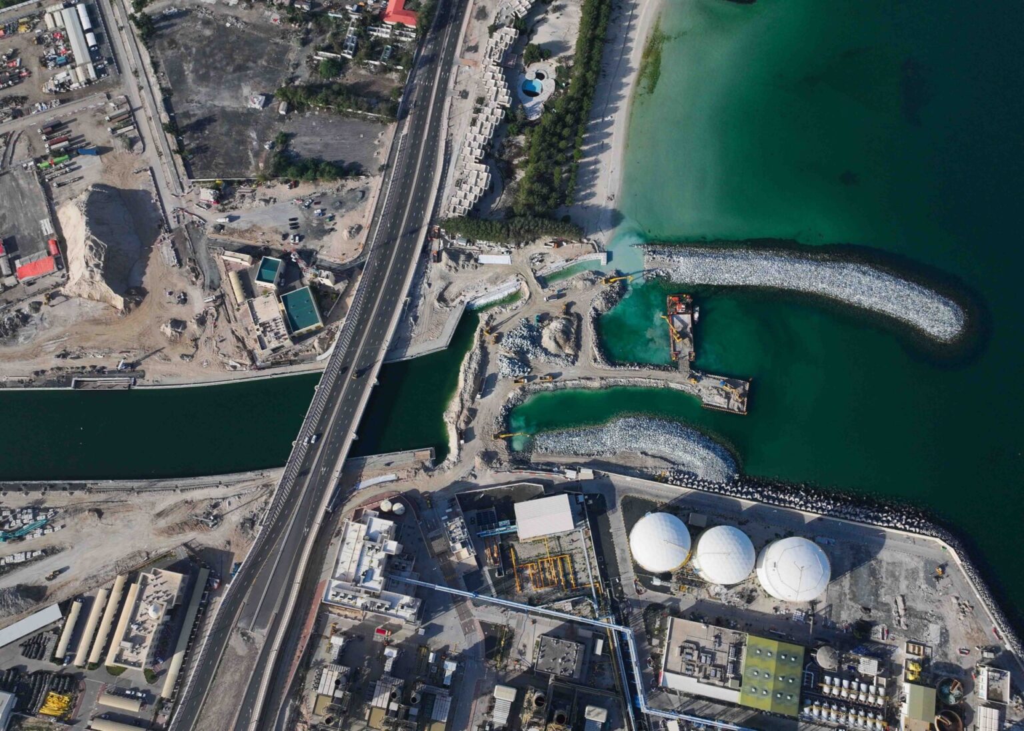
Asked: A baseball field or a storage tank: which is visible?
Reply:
storage tank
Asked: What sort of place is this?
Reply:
port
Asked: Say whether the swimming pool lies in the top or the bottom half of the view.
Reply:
top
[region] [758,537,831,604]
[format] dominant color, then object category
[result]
white storage tank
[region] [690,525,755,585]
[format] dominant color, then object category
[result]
white storage tank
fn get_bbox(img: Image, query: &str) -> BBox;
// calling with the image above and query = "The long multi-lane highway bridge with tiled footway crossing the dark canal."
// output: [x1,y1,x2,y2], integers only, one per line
[169,0,473,731]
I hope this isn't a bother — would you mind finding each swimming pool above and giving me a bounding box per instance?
[514,67,551,120]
